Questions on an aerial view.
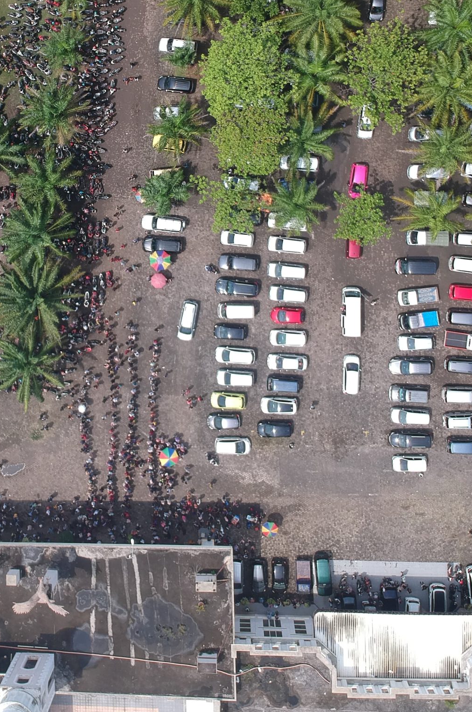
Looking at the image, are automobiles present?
Yes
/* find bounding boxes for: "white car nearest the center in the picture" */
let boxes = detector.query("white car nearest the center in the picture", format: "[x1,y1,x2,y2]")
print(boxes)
[217,345,255,364]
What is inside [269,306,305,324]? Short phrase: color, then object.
red car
